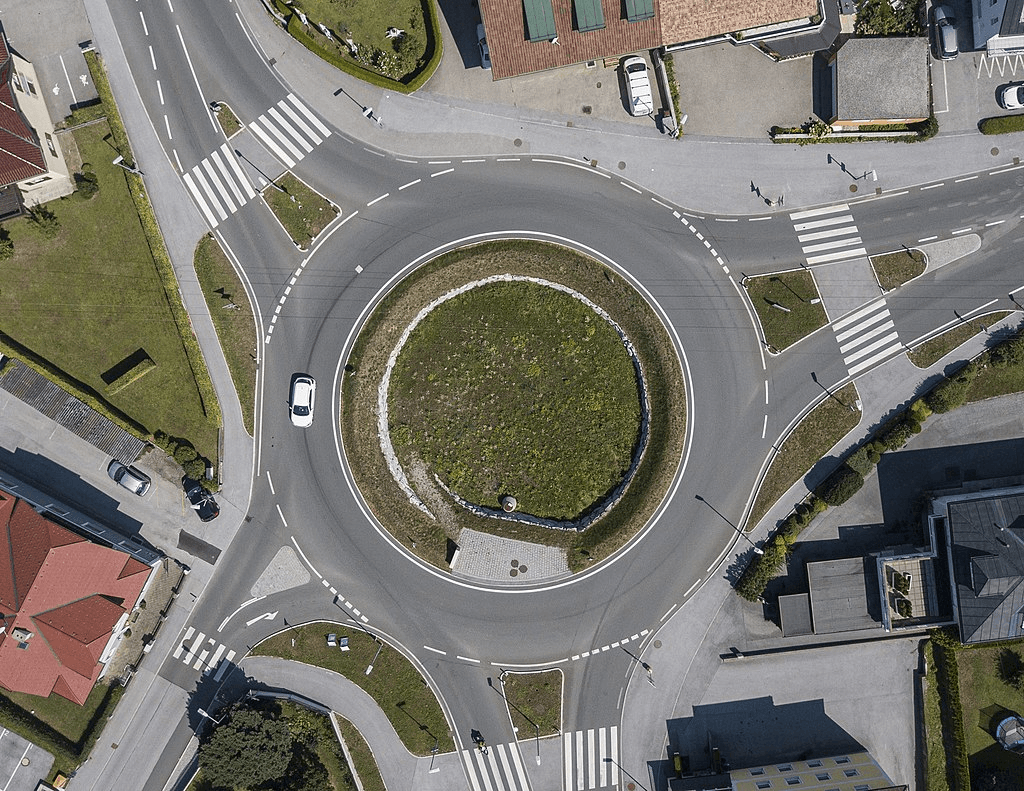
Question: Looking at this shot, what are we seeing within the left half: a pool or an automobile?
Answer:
automobile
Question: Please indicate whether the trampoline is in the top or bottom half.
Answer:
bottom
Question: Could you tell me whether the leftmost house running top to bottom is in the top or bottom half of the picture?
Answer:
top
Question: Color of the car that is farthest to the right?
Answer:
white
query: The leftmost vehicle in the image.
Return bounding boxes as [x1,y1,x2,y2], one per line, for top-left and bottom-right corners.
[106,458,154,497]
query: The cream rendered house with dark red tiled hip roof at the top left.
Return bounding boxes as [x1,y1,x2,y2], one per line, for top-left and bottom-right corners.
[0,29,74,206]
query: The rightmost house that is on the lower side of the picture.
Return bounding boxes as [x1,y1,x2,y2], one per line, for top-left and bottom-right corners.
[868,485,1024,646]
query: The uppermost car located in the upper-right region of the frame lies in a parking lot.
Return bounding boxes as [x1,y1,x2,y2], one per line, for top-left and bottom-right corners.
[932,6,963,60]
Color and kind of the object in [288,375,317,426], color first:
white car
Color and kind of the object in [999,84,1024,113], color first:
white car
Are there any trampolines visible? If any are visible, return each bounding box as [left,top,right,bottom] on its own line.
[993,714,1024,762]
